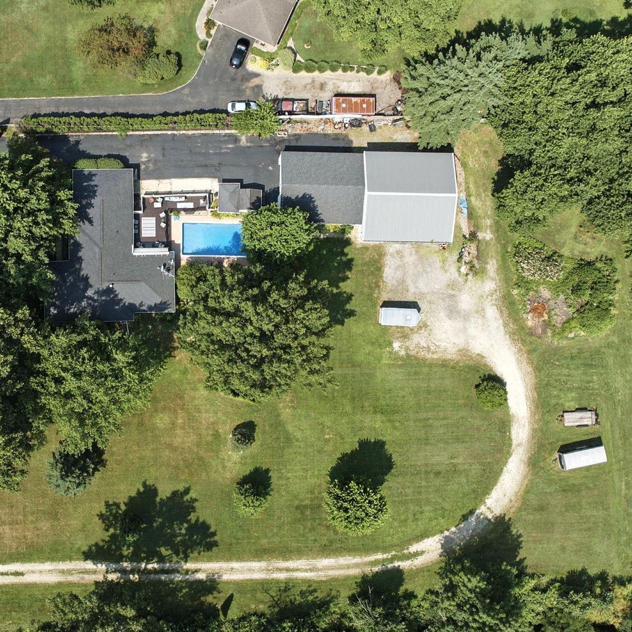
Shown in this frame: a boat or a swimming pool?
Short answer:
swimming pool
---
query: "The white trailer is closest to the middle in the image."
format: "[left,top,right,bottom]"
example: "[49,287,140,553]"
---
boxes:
[376,306,422,328]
